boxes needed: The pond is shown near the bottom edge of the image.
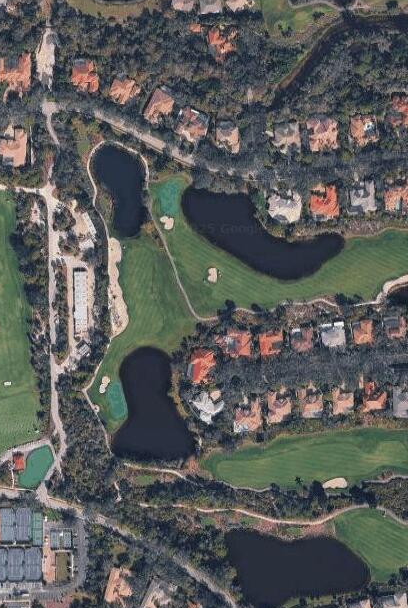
[224,530,370,608]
